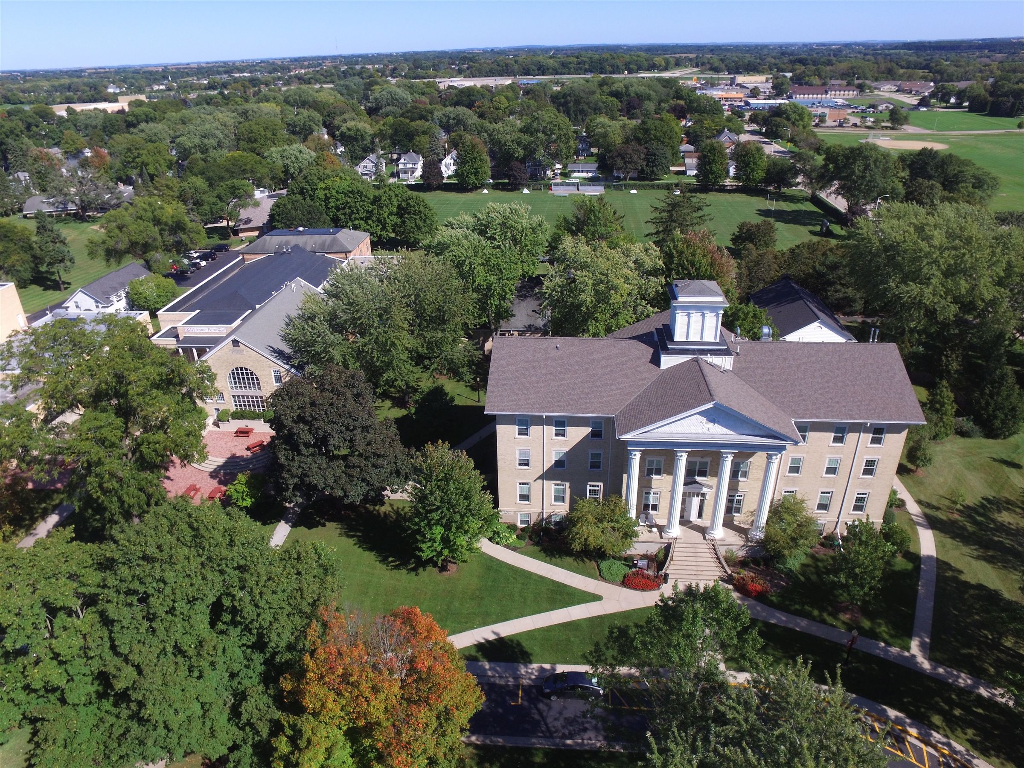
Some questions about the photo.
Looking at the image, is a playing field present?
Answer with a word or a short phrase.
Yes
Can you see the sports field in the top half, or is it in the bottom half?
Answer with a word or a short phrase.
top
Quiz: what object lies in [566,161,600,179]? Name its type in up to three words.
house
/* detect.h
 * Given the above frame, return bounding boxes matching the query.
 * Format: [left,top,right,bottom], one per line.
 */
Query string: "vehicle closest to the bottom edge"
[540,667,604,702]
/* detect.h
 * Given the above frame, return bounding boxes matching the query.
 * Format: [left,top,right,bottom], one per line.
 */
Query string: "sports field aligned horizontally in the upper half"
[346,193,883,281]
